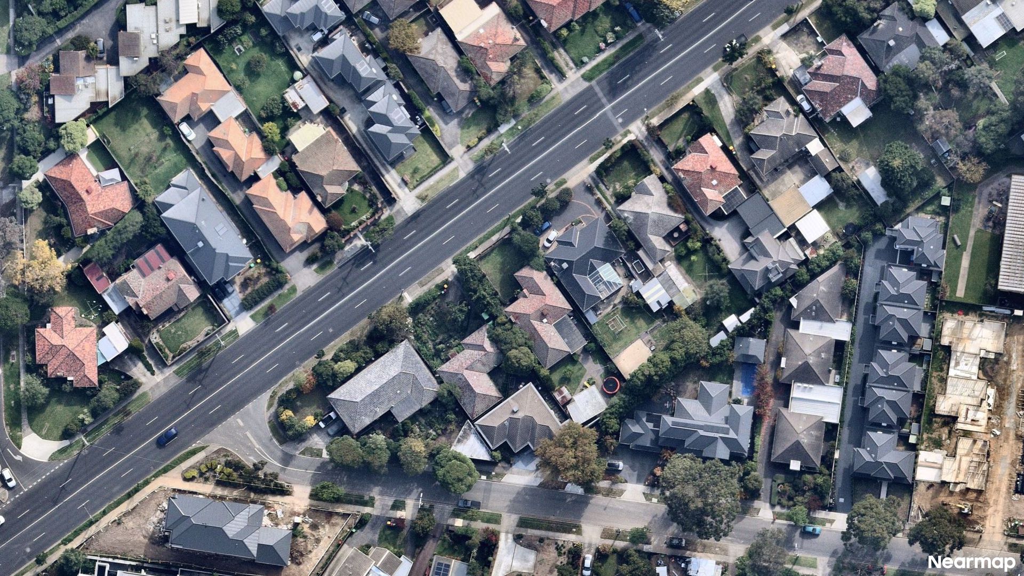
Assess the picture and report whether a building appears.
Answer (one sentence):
Yes, the frame does contain a building.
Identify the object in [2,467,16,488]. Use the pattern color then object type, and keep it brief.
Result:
white car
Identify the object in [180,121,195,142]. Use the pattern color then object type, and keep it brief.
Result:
white car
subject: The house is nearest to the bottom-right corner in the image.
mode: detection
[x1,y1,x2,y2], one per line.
[917,437,992,491]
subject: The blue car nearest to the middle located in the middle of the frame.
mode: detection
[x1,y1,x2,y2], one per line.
[534,220,553,235]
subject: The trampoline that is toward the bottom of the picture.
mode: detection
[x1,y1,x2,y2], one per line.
[602,377,619,394]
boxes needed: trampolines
[843,221,858,236]
[602,377,619,394]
